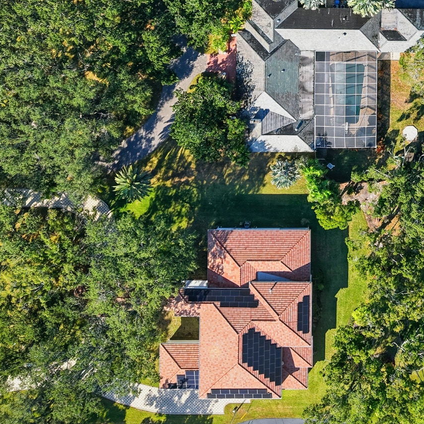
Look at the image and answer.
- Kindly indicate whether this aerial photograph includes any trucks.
No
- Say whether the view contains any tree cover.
Yes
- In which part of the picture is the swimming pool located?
top right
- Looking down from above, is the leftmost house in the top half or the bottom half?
bottom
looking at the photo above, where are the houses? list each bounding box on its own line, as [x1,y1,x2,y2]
[159,226,314,399]
[236,0,424,152]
